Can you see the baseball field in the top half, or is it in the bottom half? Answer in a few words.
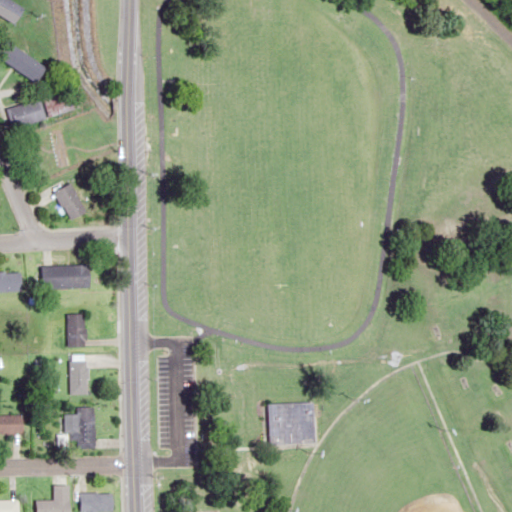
bottom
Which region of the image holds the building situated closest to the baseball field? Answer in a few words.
bottom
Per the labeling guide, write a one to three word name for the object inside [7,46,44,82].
house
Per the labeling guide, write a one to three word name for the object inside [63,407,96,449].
house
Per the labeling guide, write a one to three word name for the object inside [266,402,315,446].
building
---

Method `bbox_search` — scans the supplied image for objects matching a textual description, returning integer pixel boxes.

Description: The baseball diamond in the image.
[292,364,480,512]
